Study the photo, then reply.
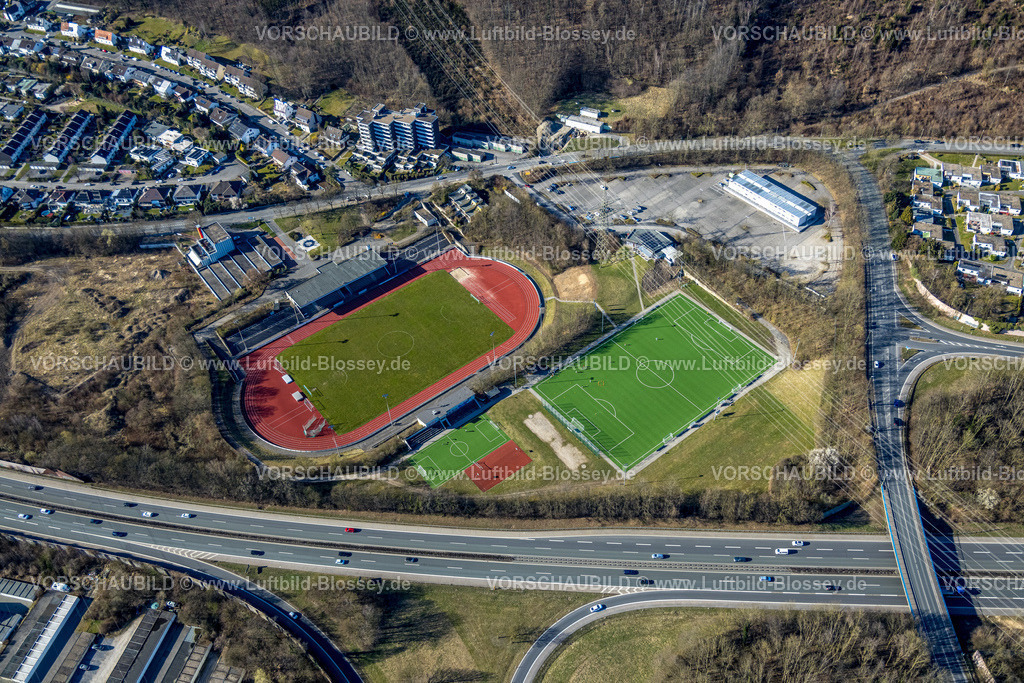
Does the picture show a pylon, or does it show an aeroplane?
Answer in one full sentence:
Visible in the photo is a pylon.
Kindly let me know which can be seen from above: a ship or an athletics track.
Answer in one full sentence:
The image shows an athletics track.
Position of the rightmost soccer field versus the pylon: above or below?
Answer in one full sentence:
The position of the rightmost soccer field is below the pylon.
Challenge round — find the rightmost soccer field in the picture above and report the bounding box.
[522,287,790,483]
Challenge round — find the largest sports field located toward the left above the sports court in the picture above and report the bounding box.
[273,266,516,434]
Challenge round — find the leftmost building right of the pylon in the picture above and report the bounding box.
[626,230,683,263]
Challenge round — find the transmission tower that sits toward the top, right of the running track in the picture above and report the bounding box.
[590,195,630,271]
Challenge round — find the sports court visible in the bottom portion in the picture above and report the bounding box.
[465,442,532,491]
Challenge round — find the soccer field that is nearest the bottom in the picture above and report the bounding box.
[411,416,509,487]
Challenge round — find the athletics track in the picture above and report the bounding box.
[235,247,540,450]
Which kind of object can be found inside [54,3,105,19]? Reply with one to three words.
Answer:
shed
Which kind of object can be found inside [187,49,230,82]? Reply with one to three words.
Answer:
building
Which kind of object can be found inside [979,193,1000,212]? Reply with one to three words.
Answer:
house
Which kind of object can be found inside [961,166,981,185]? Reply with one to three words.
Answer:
house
